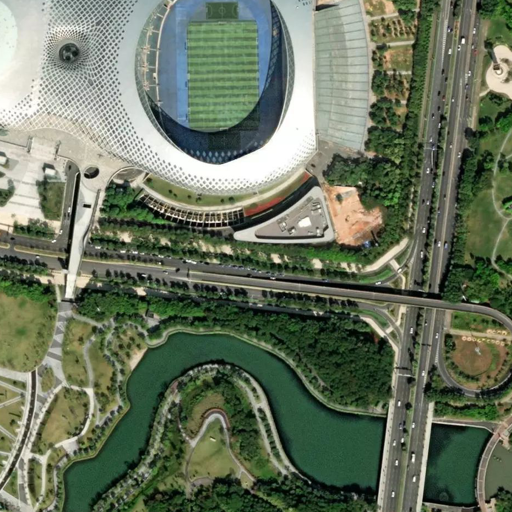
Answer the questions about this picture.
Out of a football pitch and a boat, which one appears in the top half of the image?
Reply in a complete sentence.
The one visible in the top half of the image is a football pitch.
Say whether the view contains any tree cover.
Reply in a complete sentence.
Yes, tree cover can be seen from above here.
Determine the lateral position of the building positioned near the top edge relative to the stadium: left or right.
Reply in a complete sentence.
Looking at the picture, you'll find the building positioned near the top edge to the right of the stadium.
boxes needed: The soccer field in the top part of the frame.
[188,21,258,131]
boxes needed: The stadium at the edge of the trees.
[0,0,316,192]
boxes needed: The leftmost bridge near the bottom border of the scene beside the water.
[378,402,434,512]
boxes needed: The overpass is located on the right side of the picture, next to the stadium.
[175,269,512,394]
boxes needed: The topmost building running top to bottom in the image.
[315,0,368,151]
